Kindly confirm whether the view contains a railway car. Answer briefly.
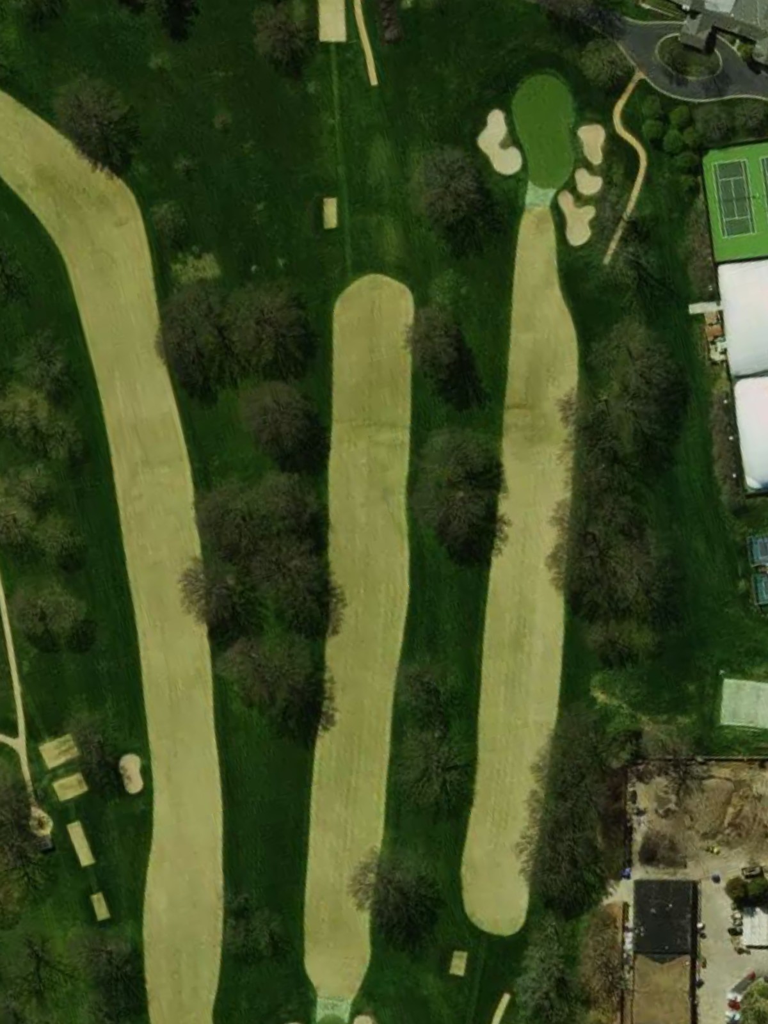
No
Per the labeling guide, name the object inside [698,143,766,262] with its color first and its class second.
green tennis court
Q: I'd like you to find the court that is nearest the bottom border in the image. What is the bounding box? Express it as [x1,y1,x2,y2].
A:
[717,679,768,729]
